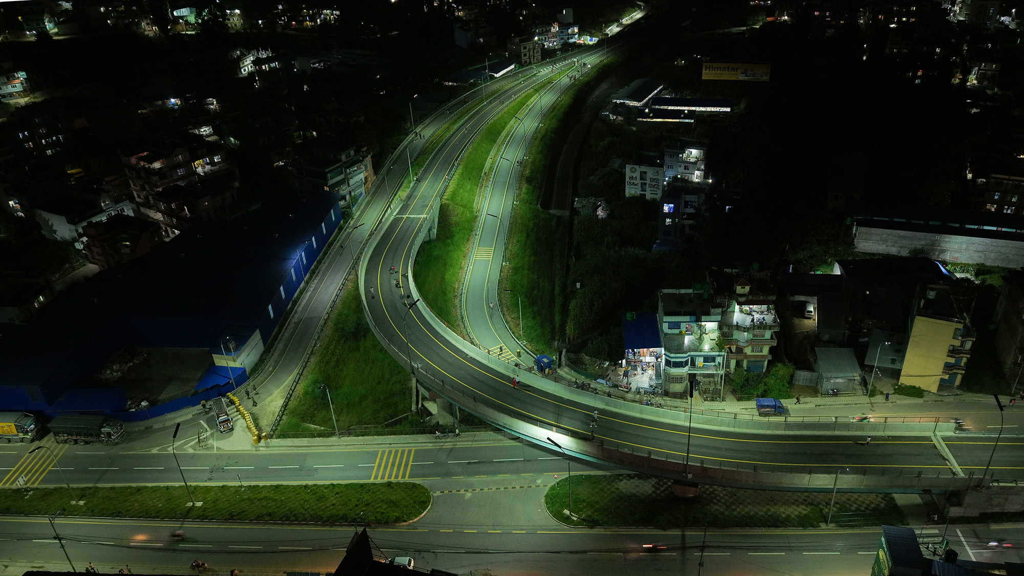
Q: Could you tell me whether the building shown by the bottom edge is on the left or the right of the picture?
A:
right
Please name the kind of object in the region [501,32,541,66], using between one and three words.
house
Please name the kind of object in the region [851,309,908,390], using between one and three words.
shed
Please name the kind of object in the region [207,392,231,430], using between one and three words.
truck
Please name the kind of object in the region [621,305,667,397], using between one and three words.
building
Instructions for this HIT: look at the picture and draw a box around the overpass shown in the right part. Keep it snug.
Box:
[360,202,1017,506]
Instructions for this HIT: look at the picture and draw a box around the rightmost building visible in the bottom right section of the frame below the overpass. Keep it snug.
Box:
[863,525,929,576]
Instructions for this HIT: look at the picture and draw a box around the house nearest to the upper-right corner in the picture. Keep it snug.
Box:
[973,0,1015,28]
